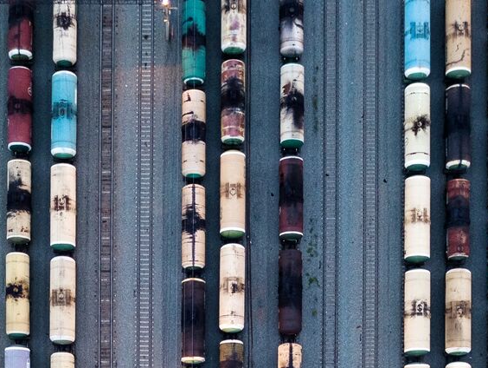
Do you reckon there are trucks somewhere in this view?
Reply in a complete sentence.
No, no truck is visible in the scene.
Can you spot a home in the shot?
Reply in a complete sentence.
No, the photo shows no home.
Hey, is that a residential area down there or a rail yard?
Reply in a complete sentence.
The picture captures a rail yard.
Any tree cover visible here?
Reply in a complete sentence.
No, tree cover can't be seen anywhere here.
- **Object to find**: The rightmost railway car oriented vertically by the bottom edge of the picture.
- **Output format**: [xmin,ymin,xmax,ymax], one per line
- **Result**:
[443,267,471,360]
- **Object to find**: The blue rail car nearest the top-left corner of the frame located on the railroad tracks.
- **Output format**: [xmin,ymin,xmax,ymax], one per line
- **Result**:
[50,72,78,164]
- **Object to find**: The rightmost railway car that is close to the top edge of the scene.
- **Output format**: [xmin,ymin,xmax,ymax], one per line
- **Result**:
[443,0,471,84]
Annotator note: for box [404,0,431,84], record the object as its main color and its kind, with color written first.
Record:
blue rail car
